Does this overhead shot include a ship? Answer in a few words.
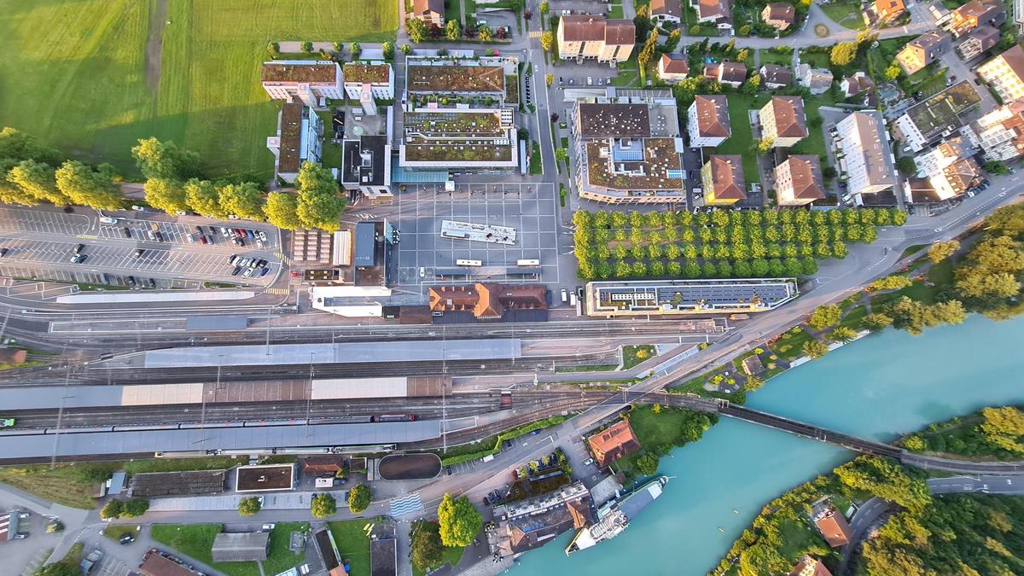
Yes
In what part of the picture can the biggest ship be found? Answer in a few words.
bottom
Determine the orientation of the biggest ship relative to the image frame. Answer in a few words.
diagonally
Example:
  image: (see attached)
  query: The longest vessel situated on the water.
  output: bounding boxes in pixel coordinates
[566,476,673,554]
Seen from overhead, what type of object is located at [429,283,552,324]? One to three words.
train station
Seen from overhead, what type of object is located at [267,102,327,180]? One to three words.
building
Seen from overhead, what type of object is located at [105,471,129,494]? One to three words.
shed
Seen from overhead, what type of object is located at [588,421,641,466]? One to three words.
house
